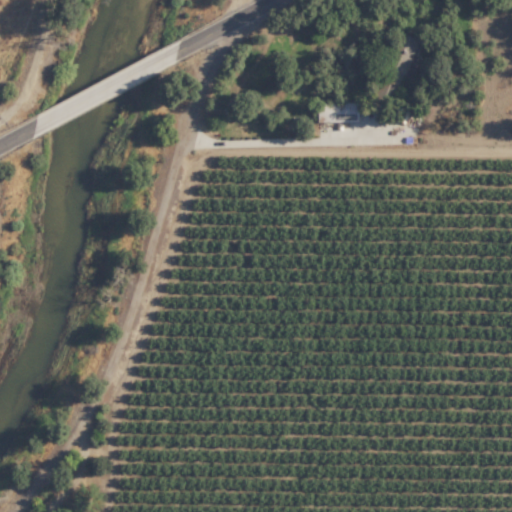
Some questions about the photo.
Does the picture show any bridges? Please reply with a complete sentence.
Yes, the frame does contain a bridge.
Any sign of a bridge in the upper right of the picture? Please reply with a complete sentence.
No, no bridge is visible in the upper right of the picture.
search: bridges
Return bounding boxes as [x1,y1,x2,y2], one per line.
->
[34,41,180,140]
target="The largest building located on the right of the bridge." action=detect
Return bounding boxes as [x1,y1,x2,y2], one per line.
[320,104,359,122]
